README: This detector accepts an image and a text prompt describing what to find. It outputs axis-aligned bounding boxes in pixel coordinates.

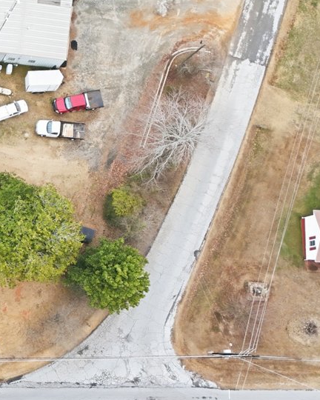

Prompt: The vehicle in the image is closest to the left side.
[0,99,30,124]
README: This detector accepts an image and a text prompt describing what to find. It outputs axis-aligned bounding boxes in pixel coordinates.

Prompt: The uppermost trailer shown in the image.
[22,67,68,92]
